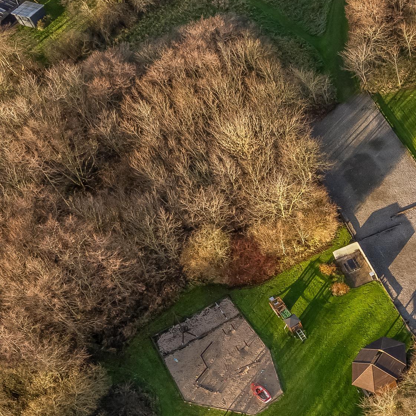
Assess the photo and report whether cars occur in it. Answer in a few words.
No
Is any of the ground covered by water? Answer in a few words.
No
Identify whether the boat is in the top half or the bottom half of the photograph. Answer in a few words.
bottom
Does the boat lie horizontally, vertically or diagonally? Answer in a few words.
diagonally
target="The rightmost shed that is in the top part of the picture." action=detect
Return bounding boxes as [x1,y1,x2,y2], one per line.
[11,0,48,26]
